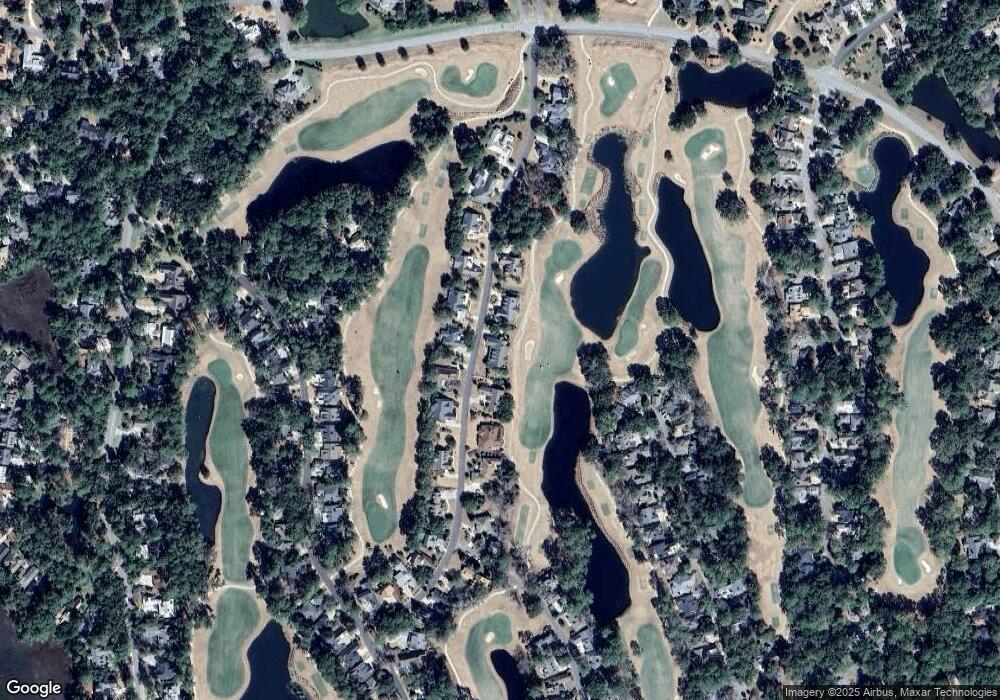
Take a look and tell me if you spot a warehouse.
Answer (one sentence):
No, no warehouse is visible in the view.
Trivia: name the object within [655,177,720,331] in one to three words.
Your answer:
pond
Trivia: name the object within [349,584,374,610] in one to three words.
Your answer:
house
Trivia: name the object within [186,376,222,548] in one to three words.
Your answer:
pond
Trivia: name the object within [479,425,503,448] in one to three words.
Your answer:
house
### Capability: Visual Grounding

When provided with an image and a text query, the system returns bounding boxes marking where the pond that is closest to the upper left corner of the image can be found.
[300,0,368,37]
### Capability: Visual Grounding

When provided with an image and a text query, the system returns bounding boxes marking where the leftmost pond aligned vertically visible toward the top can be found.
[570,133,649,340]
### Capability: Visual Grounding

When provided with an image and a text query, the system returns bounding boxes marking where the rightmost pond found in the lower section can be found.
[542,380,630,622]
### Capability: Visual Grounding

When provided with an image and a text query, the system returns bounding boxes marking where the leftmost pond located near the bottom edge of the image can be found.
[238,619,304,700]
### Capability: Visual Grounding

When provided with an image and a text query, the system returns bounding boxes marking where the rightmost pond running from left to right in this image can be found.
[679,62,773,107]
